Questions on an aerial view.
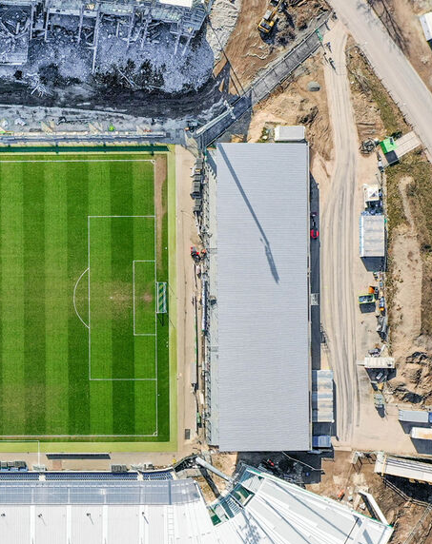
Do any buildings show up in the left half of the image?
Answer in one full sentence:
No, the scene shows no building in the left half of the image.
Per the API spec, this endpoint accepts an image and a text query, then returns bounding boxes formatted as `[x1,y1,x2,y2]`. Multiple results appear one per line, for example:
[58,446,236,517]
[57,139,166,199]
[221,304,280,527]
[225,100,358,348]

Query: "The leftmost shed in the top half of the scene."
[269,126,306,143]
